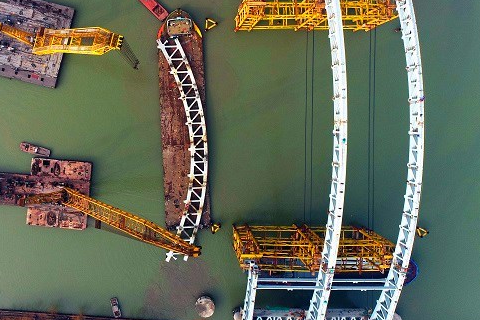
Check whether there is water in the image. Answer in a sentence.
Yes, the picture does contain water.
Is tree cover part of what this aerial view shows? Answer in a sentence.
No, tree cover can't be seen anywhere here.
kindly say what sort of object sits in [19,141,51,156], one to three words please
boat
